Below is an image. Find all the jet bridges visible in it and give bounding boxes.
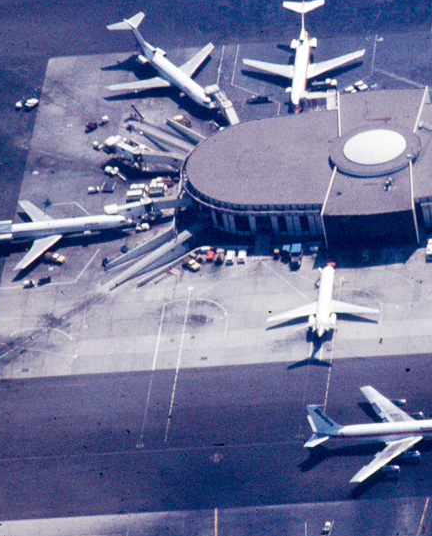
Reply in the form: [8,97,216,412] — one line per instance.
[102,135,184,177]
[205,84,240,126]
[296,91,337,112]
[100,193,186,226]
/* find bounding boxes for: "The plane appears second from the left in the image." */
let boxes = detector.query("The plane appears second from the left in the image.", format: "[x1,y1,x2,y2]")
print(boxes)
[105,14,214,108]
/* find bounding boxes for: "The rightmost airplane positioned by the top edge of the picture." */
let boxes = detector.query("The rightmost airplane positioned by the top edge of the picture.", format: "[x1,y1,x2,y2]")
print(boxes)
[242,0,366,111]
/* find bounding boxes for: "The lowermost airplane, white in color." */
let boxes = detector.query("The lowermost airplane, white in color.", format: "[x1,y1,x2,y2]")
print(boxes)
[302,385,432,485]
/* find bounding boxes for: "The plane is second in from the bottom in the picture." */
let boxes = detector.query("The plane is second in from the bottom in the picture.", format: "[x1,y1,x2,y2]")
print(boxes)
[268,263,381,338]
